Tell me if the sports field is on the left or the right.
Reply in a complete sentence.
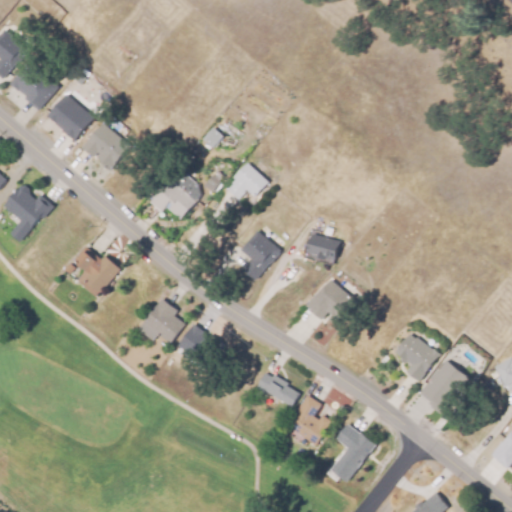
You can find the sports field on the left side of the picture.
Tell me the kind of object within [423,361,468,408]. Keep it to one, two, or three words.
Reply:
house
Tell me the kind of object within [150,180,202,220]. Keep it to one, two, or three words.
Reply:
house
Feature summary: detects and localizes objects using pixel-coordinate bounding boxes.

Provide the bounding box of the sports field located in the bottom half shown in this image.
[0,342,134,447]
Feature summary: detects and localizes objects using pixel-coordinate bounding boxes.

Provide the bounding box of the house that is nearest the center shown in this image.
[244,231,283,279]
